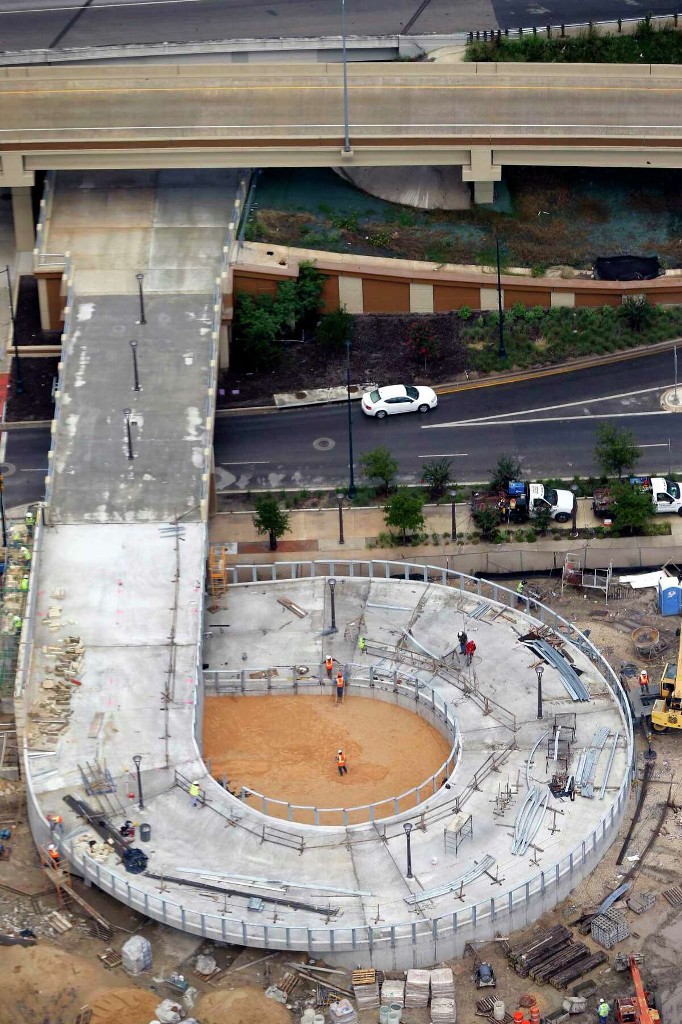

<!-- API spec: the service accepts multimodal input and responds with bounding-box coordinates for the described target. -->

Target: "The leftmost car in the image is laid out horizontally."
[358,380,439,418]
